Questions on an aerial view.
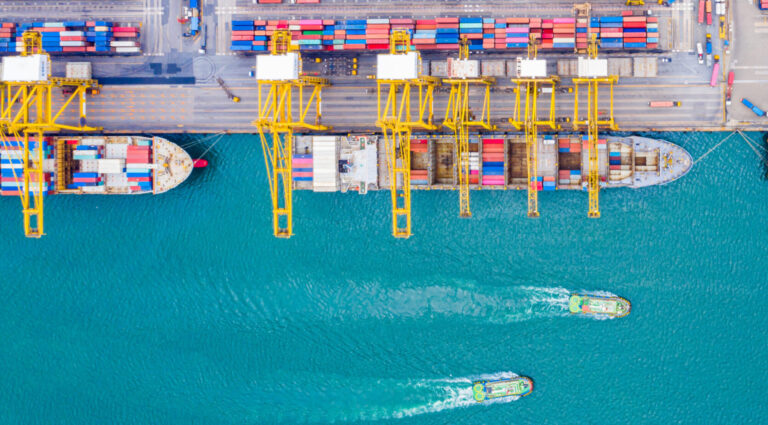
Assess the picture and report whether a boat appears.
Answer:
Yes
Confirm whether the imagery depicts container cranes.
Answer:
Yes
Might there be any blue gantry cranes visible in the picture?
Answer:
No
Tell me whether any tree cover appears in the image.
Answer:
No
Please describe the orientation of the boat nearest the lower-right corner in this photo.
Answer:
horizontally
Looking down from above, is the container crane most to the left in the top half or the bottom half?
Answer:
top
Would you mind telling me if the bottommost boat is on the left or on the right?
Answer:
right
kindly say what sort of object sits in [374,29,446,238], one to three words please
container crane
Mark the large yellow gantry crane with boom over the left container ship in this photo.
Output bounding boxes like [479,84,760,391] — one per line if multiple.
[0,29,104,238]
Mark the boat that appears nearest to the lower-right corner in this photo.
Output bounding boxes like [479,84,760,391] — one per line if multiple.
[568,292,632,316]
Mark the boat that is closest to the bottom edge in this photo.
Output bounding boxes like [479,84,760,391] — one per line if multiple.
[471,375,535,403]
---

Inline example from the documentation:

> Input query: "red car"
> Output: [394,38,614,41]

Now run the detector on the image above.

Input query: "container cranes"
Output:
[442,36,504,218]
[509,36,565,219]
[573,0,592,59]
[572,36,622,220]
[254,29,336,238]
[0,29,104,238]
[374,29,446,238]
